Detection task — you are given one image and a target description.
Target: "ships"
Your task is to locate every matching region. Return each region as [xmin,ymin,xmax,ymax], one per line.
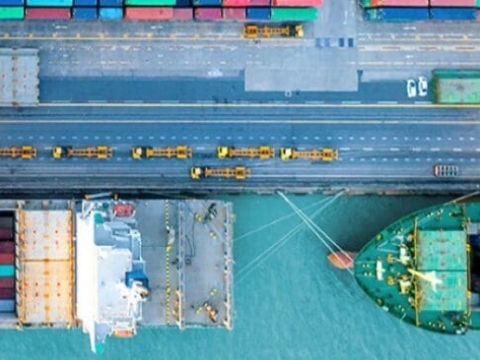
[328,197,480,336]
[0,195,236,352]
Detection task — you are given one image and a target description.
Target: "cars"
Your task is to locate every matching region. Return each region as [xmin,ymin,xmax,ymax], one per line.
[407,78,418,97]
[418,77,428,95]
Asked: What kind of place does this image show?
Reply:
port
